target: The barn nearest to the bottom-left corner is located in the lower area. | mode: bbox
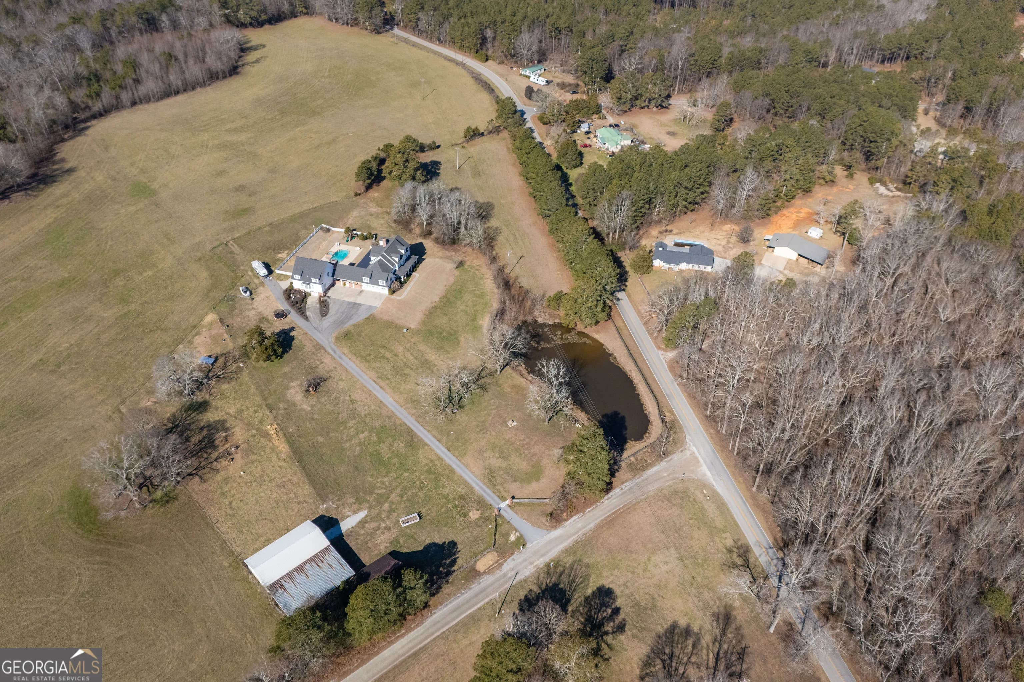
[243,519,350,617]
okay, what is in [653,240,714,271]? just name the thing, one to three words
house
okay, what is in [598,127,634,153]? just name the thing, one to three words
building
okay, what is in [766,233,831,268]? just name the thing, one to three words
building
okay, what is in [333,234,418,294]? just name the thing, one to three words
house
